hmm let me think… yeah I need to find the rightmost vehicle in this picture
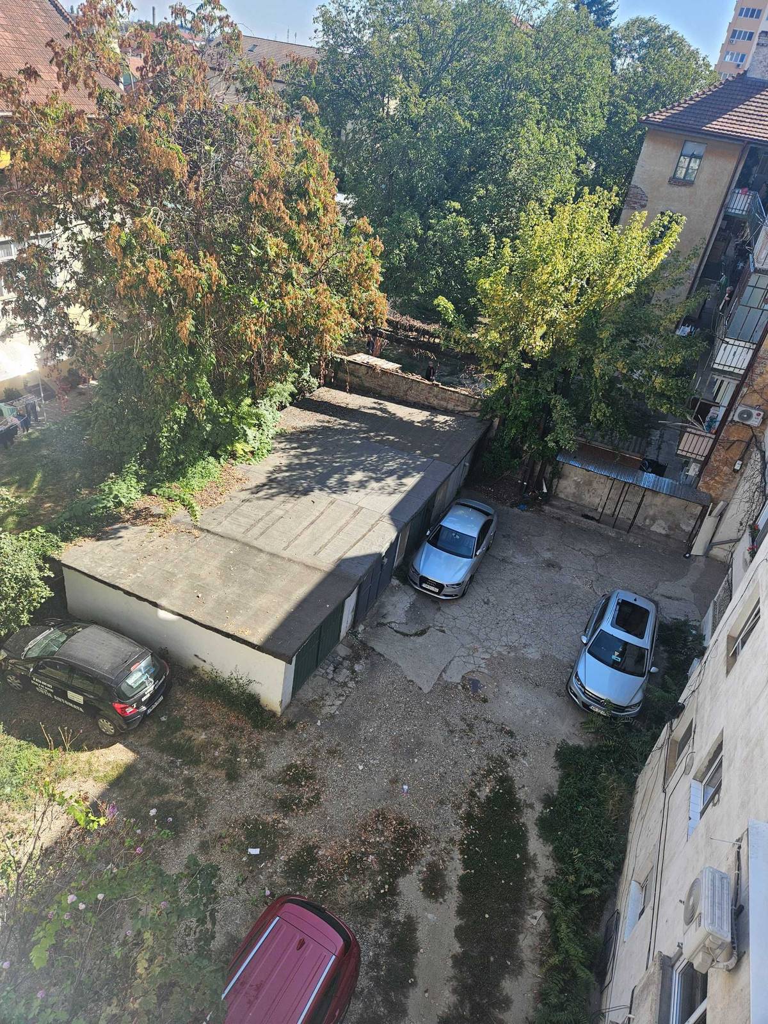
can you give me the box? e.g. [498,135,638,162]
[561,582,656,717]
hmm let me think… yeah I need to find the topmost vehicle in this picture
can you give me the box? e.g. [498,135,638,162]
[407,497,502,599]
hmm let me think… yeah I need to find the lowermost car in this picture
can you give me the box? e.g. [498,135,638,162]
[196,905,367,1024]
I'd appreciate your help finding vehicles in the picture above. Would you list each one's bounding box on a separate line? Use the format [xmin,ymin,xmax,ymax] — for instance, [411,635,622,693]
[561,582,656,717]
[407,497,502,599]
[0,617,178,737]
[196,905,367,1024]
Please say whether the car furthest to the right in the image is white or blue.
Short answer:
blue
